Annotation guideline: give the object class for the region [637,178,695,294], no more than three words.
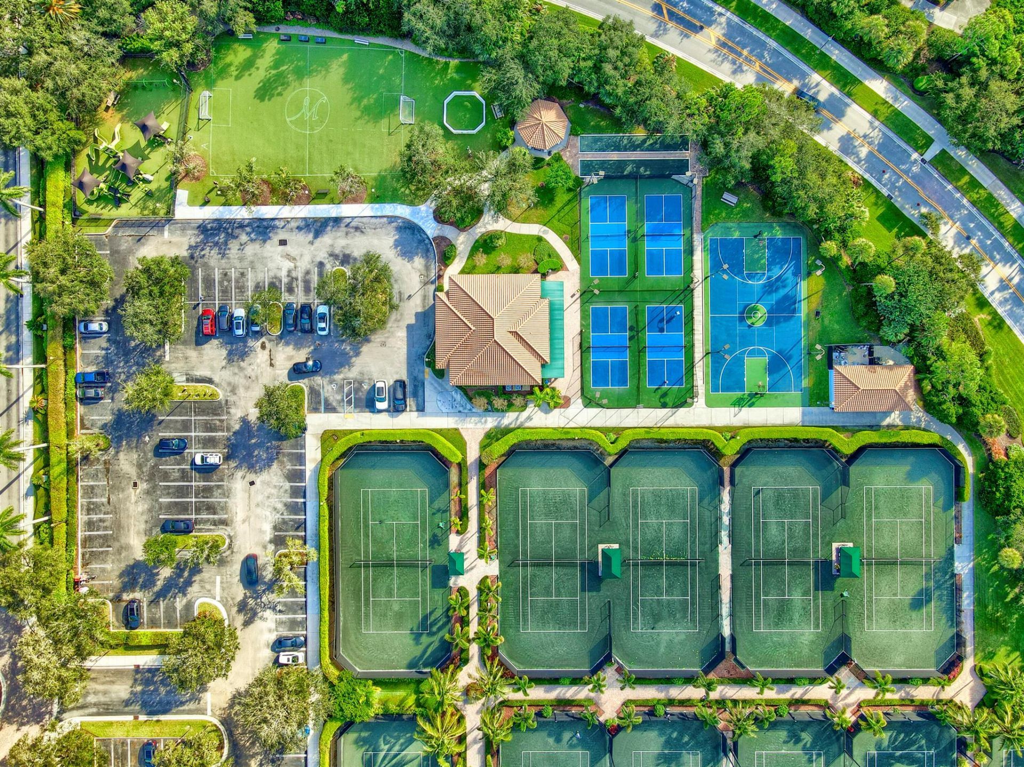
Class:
sports court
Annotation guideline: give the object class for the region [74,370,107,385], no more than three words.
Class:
vehicle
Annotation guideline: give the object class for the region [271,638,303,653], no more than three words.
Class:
car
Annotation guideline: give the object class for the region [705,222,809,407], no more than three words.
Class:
basketball court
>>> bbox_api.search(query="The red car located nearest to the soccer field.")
[198,309,213,335]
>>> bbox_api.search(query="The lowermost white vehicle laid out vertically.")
[373,380,387,411]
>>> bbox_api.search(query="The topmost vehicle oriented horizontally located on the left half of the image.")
[77,319,106,333]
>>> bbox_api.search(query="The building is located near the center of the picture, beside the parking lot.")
[435,273,564,386]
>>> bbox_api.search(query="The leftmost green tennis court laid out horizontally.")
[338,721,450,767]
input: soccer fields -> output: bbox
[200,42,404,175]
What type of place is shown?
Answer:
sports ground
